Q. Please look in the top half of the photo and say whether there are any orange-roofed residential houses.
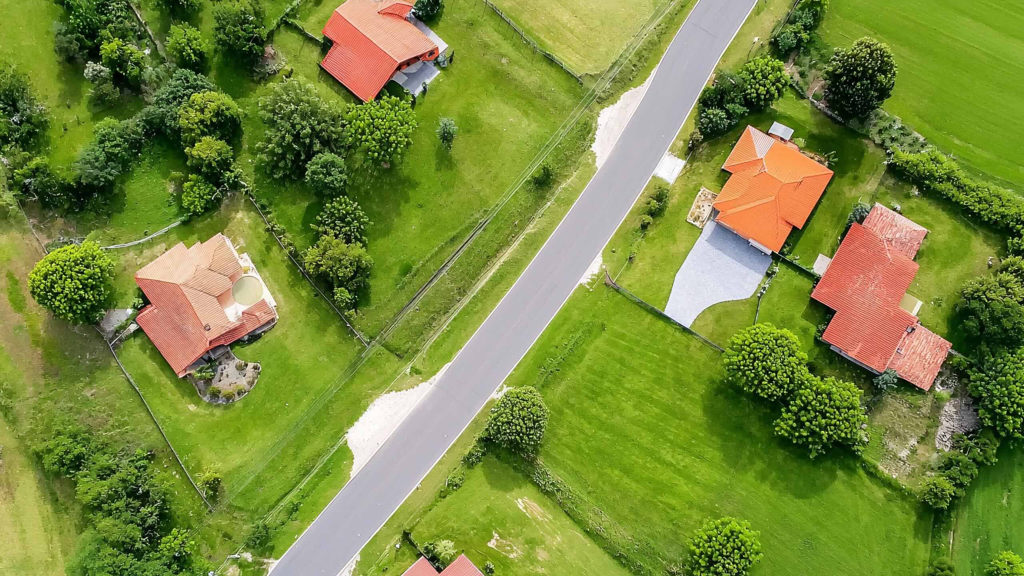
Yes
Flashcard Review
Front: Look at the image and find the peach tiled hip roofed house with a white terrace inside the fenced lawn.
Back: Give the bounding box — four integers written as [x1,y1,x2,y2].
[134,232,276,377]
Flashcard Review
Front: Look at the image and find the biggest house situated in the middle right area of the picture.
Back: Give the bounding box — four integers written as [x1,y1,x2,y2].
[807,201,953,391]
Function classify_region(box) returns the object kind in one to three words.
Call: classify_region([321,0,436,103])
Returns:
house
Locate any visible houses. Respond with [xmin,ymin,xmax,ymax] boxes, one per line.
[134,232,276,377]
[400,551,486,576]
[807,201,953,391]
[712,125,834,254]
[321,0,436,103]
